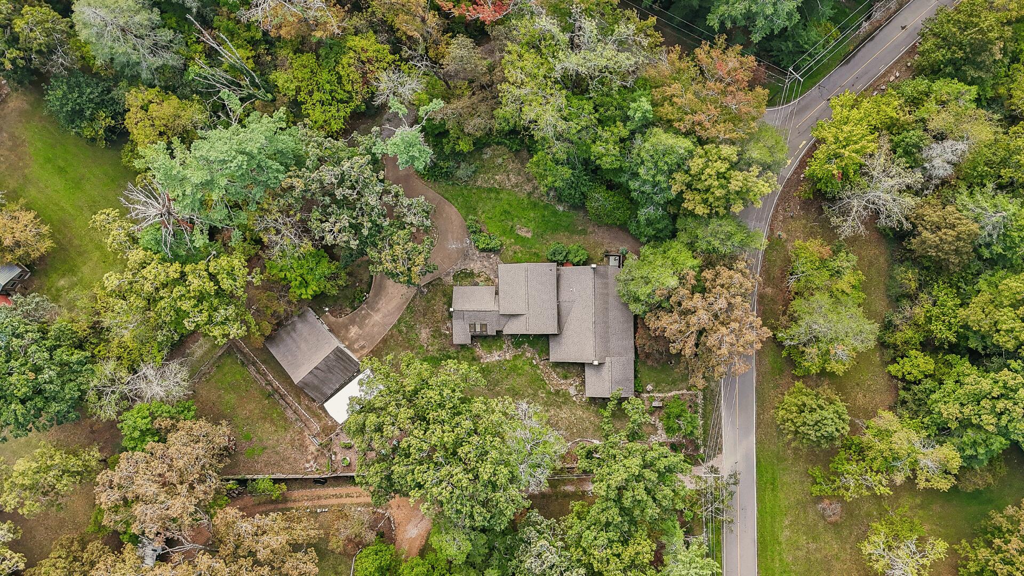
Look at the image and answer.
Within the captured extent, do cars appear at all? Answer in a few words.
No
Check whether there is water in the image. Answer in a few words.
No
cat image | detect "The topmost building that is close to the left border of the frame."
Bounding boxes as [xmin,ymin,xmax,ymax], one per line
[0,259,36,290]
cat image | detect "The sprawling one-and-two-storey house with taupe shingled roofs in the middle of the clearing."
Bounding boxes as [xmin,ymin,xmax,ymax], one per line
[449,263,635,398]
